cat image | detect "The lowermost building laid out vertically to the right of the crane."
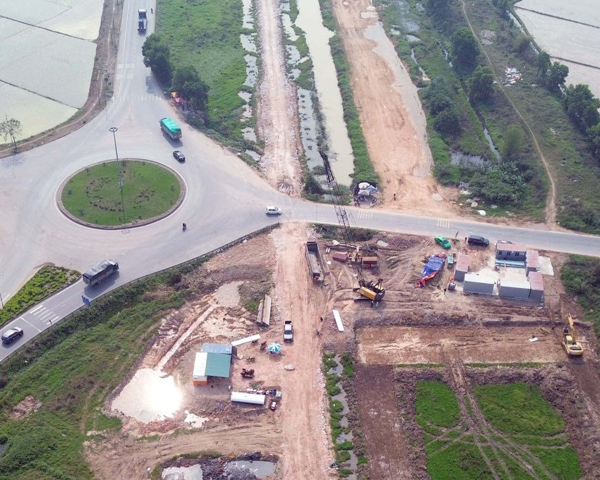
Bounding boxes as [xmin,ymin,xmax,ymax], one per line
[531,273,546,303]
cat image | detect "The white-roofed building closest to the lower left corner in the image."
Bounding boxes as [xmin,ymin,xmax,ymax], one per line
[193,353,209,384]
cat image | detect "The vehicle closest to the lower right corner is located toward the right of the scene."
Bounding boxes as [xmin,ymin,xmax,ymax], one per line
[559,312,586,362]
